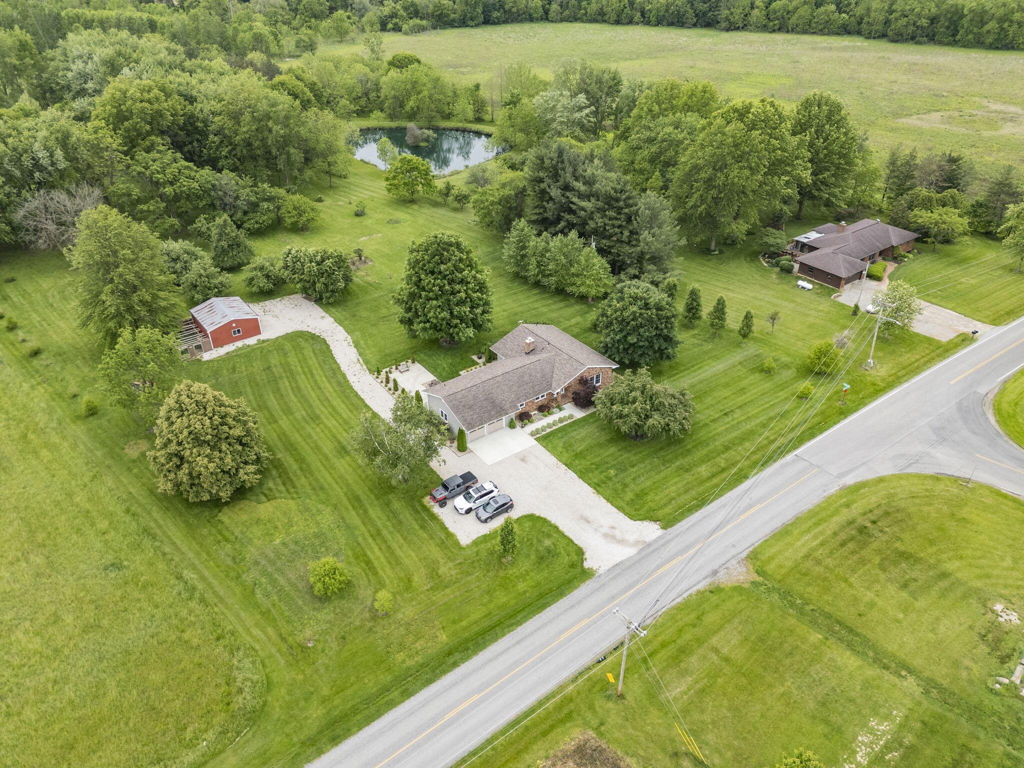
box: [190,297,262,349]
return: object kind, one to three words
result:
barn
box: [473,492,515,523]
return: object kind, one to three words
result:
car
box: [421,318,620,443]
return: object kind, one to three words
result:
house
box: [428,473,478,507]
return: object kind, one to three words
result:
truck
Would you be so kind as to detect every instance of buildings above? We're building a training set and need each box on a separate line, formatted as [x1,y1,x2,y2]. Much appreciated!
[421,318,620,443]
[792,216,921,289]
[190,297,262,349]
